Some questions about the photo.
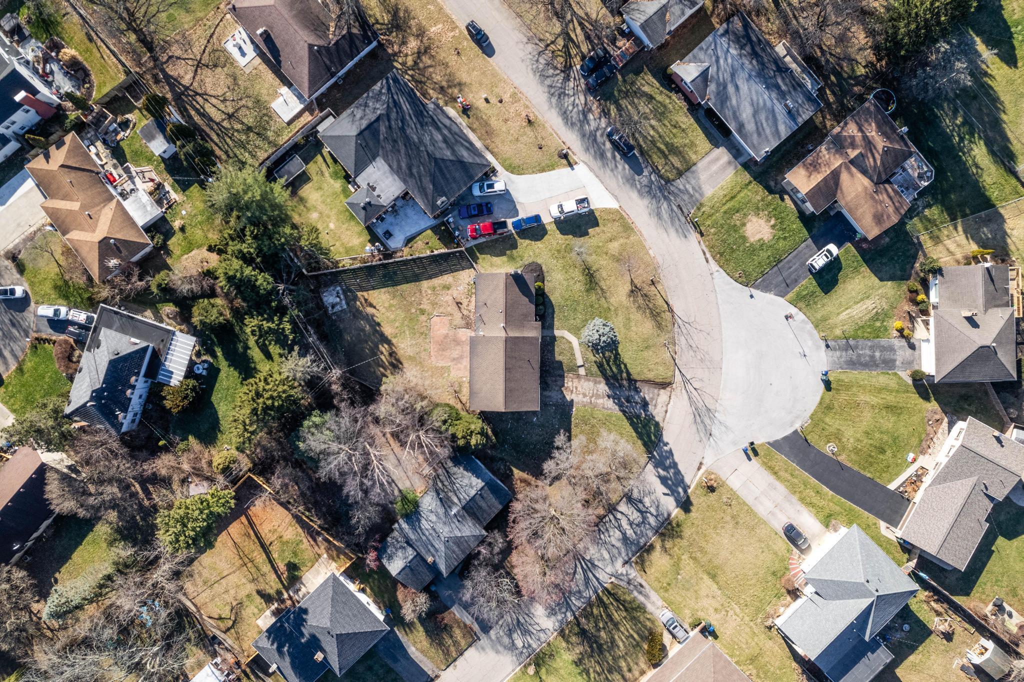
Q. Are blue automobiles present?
Yes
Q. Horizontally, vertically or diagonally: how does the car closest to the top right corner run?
diagonally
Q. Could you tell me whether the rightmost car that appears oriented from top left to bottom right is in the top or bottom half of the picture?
bottom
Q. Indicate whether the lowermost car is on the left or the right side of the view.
right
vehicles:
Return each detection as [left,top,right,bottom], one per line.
[659,608,688,644]
[782,519,807,551]
[805,245,839,273]
[64,325,89,344]
[34,305,71,321]
[458,202,493,219]
[0,284,28,300]
[576,47,611,76]
[582,62,619,91]
[550,197,592,218]
[67,309,95,328]
[466,16,490,52]
[471,180,506,197]
[467,220,507,239]
[511,215,542,231]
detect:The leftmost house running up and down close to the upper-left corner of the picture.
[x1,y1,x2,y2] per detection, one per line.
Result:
[0,32,67,169]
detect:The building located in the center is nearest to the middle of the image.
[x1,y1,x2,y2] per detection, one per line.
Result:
[469,270,542,412]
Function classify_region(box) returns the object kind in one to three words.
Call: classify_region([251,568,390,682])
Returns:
house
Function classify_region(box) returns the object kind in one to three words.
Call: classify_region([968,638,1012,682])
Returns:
shed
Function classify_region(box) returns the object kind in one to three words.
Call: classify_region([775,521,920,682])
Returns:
house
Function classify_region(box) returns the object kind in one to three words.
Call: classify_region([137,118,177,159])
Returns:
shed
